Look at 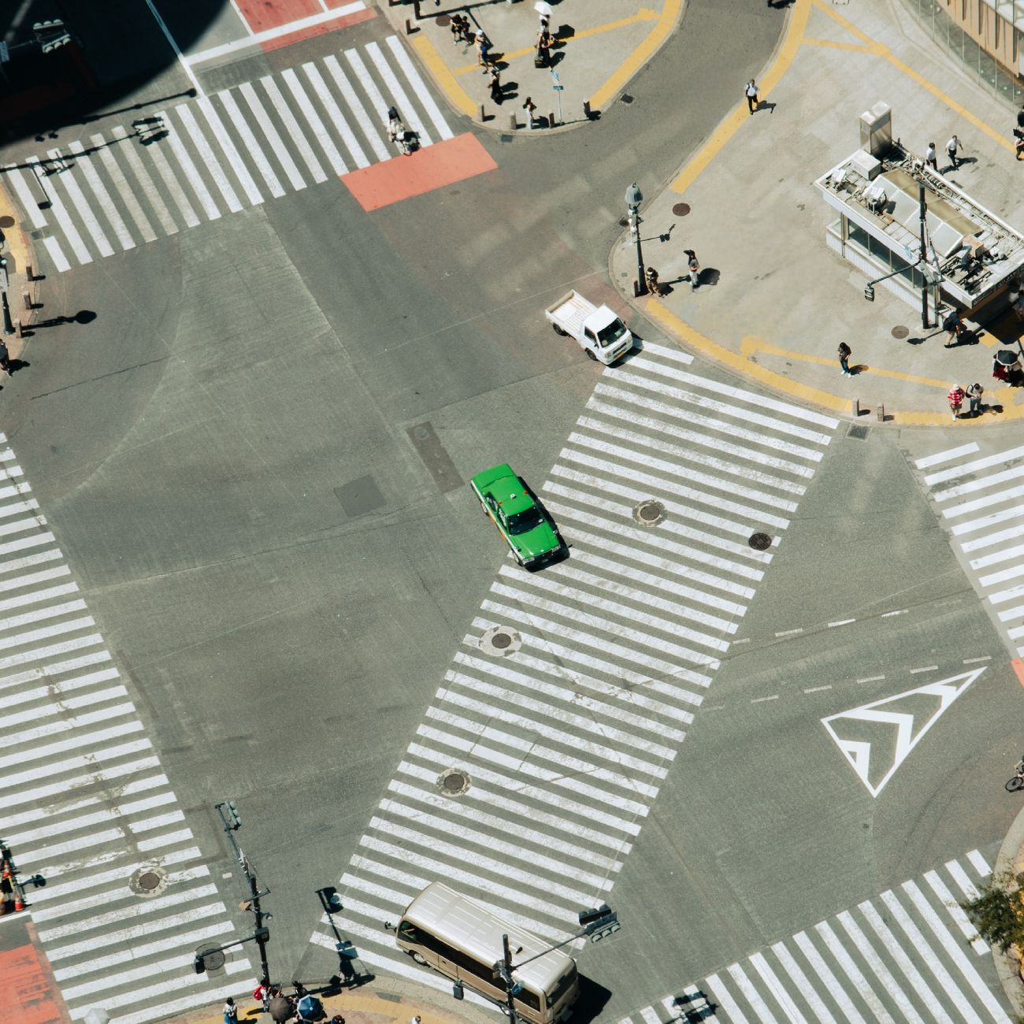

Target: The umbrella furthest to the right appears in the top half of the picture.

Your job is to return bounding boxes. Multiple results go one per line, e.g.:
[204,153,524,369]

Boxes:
[992,350,1016,373]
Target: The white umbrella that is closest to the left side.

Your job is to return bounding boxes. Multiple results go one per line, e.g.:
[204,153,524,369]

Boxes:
[84,1003,110,1024]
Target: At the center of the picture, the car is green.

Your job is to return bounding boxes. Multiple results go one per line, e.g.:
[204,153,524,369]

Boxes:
[469,464,564,570]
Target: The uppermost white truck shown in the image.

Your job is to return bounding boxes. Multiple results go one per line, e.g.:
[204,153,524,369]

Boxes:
[543,285,633,364]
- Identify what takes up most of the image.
paved ground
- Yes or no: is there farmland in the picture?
No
